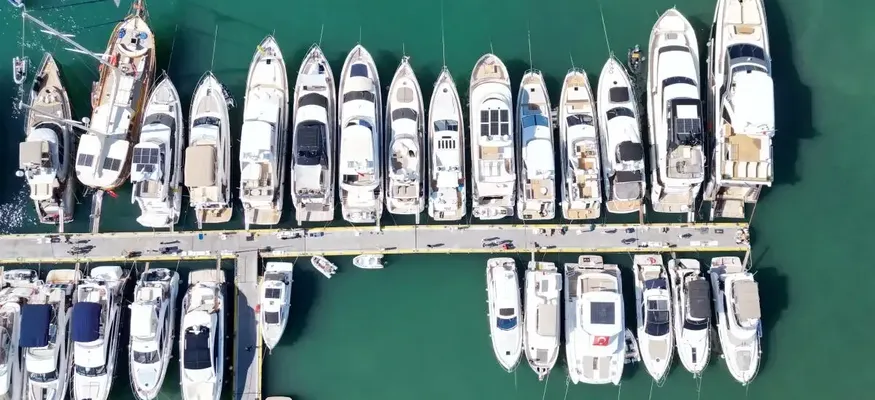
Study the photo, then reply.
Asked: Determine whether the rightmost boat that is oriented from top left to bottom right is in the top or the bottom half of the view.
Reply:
bottom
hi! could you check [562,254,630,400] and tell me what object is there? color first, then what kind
white boat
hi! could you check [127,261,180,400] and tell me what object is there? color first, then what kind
white boat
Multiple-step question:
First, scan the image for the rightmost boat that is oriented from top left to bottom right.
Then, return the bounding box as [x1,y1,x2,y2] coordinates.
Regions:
[312,259,337,279]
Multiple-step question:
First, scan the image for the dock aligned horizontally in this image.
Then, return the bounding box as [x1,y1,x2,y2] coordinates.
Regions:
[0,224,750,264]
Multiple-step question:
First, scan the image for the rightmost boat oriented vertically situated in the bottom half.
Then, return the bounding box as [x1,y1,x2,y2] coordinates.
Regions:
[708,251,763,400]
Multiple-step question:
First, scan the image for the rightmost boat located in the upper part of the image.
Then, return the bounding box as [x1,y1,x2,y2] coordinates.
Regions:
[694,0,780,222]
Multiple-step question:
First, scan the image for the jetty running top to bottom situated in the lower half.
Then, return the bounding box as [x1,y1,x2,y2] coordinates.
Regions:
[233,260,264,400]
